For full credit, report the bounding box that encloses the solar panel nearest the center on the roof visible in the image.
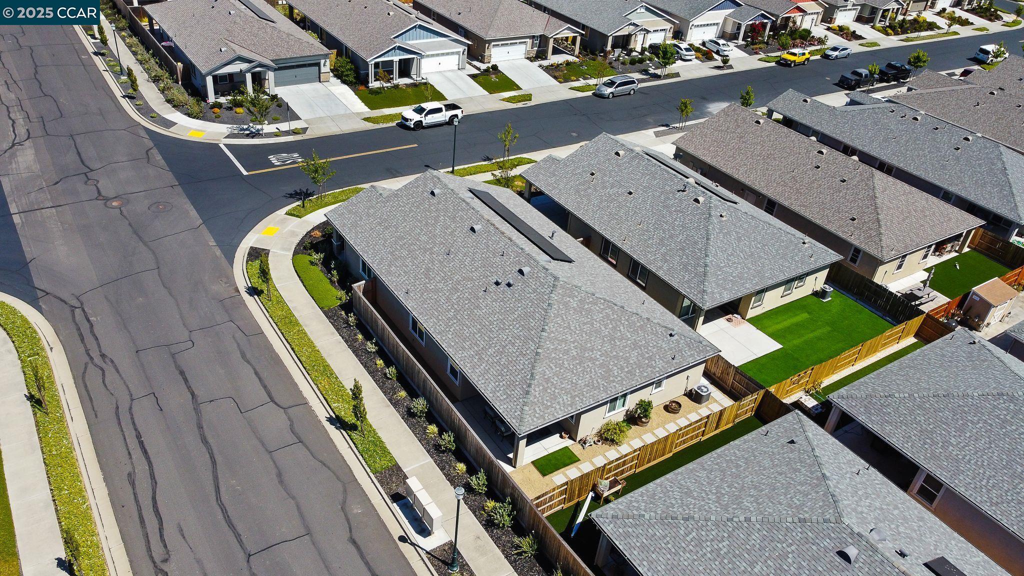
[475,185,584,265]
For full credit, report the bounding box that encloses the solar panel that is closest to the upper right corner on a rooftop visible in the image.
[645,148,743,204]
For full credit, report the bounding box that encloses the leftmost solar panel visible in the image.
[233,0,288,26]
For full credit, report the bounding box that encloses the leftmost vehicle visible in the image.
[399,101,462,131]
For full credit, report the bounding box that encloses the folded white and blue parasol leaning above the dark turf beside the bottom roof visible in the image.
[571,483,593,537]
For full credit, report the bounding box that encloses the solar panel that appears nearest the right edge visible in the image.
[924,555,967,576]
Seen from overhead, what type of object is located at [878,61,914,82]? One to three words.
truck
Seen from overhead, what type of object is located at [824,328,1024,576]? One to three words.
house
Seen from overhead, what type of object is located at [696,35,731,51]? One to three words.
car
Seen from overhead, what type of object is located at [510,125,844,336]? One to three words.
house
